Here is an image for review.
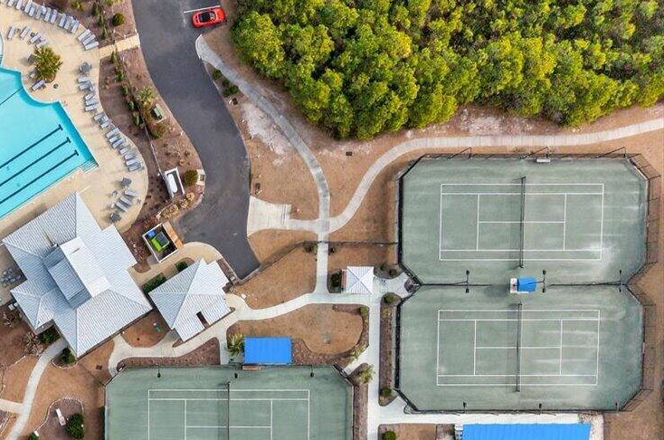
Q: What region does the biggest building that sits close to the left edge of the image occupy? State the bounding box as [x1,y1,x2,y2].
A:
[2,192,152,358]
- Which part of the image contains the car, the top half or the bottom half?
top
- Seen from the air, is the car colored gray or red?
red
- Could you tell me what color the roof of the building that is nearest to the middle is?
white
